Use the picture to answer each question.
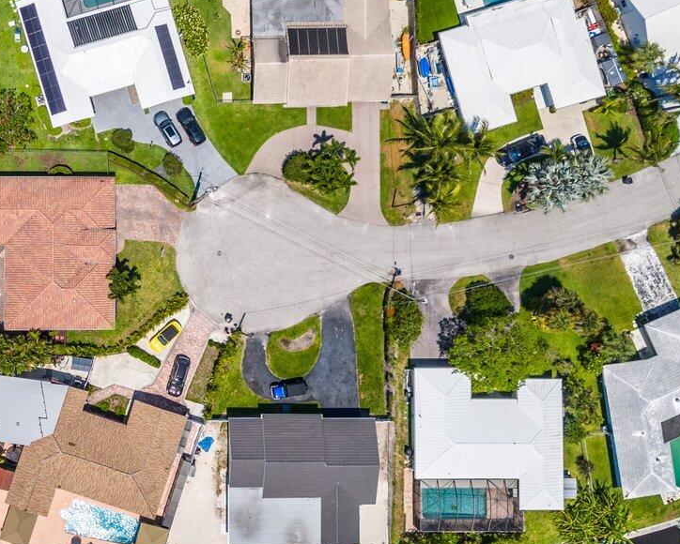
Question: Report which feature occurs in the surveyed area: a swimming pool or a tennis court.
swimming pool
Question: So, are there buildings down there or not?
Yes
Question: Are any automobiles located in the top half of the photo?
Yes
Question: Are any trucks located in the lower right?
No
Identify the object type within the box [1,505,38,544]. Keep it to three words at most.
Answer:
gazebo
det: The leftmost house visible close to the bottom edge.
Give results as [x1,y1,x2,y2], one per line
[0,378,188,519]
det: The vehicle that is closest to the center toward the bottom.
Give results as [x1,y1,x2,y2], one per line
[268,376,311,399]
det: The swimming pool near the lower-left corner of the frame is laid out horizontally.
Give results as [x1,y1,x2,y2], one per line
[59,498,141,544]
